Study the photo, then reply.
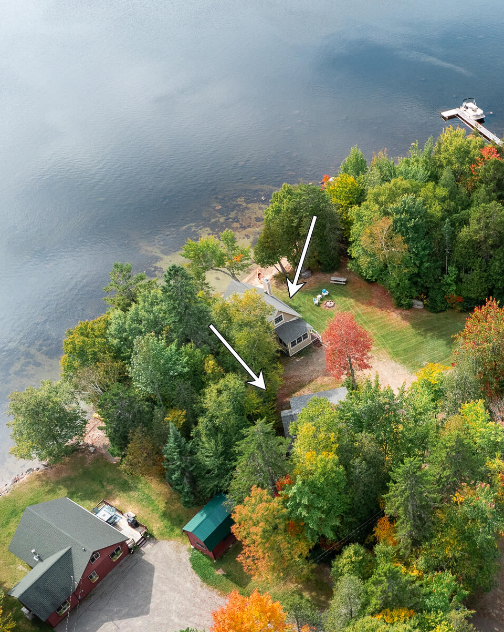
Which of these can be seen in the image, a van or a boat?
boat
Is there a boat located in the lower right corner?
No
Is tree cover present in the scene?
Yes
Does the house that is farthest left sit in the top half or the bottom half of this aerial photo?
bottom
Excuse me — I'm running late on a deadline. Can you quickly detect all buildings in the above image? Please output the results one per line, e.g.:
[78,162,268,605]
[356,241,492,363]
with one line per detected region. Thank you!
[282,386,357,448]
[5,495,148,626]
[224,274,320,355]
[183,498,243,559]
